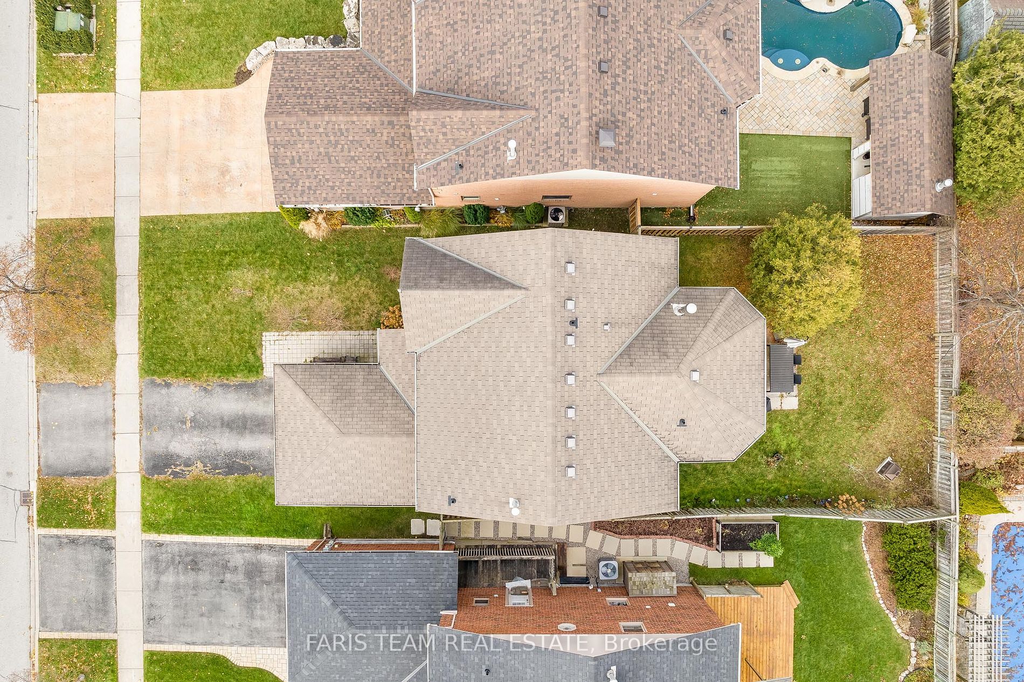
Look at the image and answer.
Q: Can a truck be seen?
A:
No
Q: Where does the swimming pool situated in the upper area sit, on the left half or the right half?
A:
right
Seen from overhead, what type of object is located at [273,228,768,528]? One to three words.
house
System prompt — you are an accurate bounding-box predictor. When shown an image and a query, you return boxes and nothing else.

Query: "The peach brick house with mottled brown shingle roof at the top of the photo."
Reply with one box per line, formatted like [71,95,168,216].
[264,0,762,224]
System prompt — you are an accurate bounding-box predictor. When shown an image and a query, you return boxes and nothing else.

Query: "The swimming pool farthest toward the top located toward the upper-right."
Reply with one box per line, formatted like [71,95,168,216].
[762,0,903,71]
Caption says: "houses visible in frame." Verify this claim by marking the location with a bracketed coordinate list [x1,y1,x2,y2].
[284,533,743,682]
[264,0,762,224]
[273,228,768,528]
